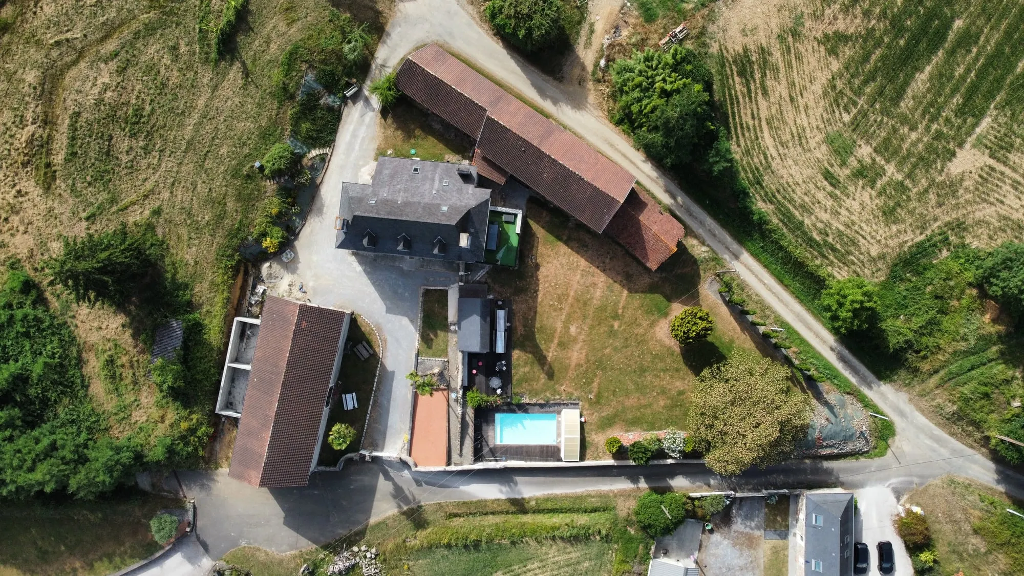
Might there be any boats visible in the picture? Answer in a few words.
No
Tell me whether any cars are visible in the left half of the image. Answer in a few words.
No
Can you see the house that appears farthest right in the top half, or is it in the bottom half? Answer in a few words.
bottom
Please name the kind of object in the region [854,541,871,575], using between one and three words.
car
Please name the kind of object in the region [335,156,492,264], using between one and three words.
house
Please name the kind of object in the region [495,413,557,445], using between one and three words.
swimming pool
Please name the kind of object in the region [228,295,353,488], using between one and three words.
barn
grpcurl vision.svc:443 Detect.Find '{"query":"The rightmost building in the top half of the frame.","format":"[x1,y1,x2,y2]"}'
[601,183,685,270]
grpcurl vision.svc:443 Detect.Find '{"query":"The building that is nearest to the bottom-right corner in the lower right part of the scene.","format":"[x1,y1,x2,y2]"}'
[795,487,855,576]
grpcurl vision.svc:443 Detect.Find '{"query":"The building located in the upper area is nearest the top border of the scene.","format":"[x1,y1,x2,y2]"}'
[396,43,505,144]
